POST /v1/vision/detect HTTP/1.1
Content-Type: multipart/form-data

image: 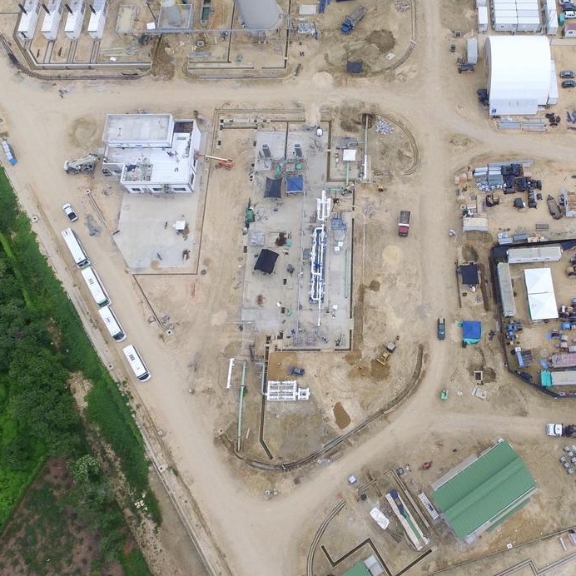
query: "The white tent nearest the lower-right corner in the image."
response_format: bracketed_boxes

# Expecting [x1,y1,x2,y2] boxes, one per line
[523,267,558,322]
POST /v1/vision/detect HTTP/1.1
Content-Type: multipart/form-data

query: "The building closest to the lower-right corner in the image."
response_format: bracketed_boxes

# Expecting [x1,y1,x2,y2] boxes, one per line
[431,440,535,540]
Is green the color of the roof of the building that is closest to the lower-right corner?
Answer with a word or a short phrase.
Yes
